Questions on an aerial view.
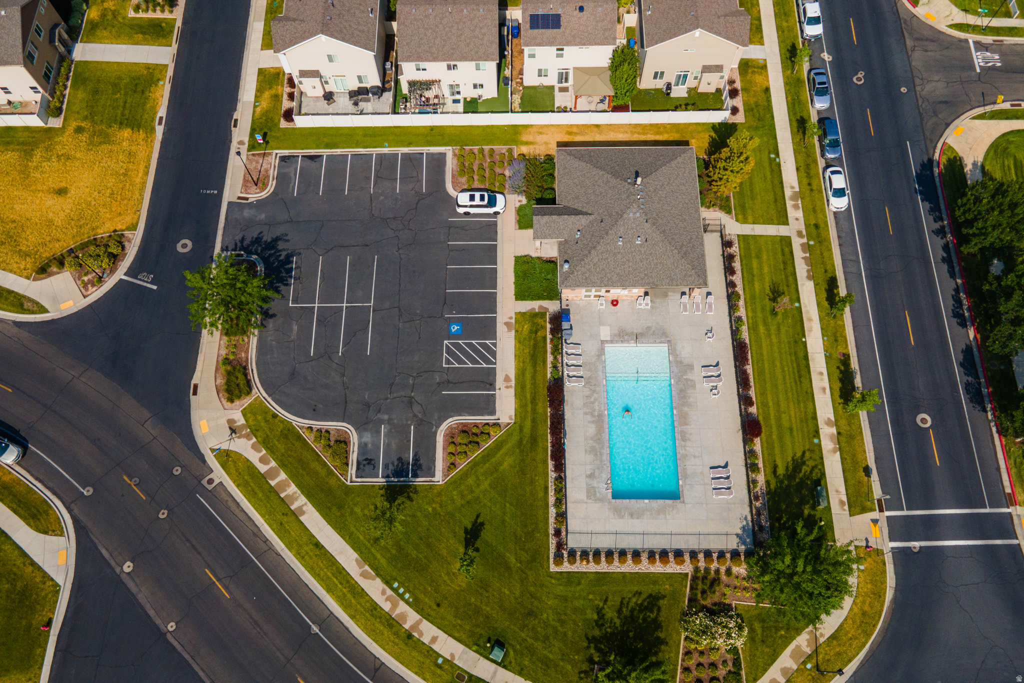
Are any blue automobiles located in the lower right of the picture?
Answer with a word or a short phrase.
No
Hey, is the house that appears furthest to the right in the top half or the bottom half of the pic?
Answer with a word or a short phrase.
top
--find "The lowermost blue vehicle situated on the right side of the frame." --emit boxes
[819,121,844,161]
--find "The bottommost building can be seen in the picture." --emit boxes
[532,146,709,300]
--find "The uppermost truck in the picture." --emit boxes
[798,0,824,39]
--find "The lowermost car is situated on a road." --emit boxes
[0,432,26,466]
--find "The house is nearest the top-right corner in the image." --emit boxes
[635,0,753,92]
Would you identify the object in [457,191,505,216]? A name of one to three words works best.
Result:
car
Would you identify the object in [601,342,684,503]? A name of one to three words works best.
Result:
swimming pool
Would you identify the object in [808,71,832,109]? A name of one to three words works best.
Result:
car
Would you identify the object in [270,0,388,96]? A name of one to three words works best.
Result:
house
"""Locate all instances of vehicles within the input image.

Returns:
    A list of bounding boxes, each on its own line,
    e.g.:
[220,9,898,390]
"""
[808,71,832,109]
[457,191,505,216]
[819,121,844,161]
[798,0,824,39]
[0,432,26,466]
[824,168,851,211]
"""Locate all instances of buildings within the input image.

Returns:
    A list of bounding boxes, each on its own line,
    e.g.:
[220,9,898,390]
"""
[532,146,709,300]
[520,0,619,85]
[0,0,85,97]
[270,0,388,96]
[635,0,753,92]
[398,0,499,97]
